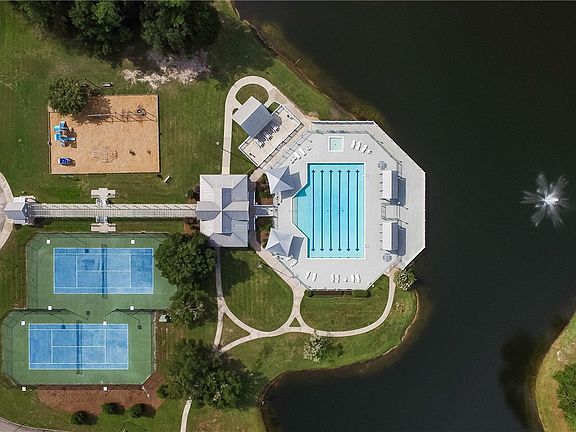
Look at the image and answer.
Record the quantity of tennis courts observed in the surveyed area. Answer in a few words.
two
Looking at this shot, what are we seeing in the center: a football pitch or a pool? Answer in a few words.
pool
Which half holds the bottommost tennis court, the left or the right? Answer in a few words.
left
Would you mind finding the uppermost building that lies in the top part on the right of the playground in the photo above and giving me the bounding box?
[233,96,273,137]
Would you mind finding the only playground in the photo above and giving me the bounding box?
[49,94,159,174]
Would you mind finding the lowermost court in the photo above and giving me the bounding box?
[2,309,154,384]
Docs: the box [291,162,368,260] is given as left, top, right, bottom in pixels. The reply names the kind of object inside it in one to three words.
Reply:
swimming pool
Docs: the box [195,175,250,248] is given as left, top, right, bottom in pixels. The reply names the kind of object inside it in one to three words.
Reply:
building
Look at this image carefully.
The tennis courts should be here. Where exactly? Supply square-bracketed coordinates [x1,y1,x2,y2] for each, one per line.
[2,309,154,384]
[26,233,178,309]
